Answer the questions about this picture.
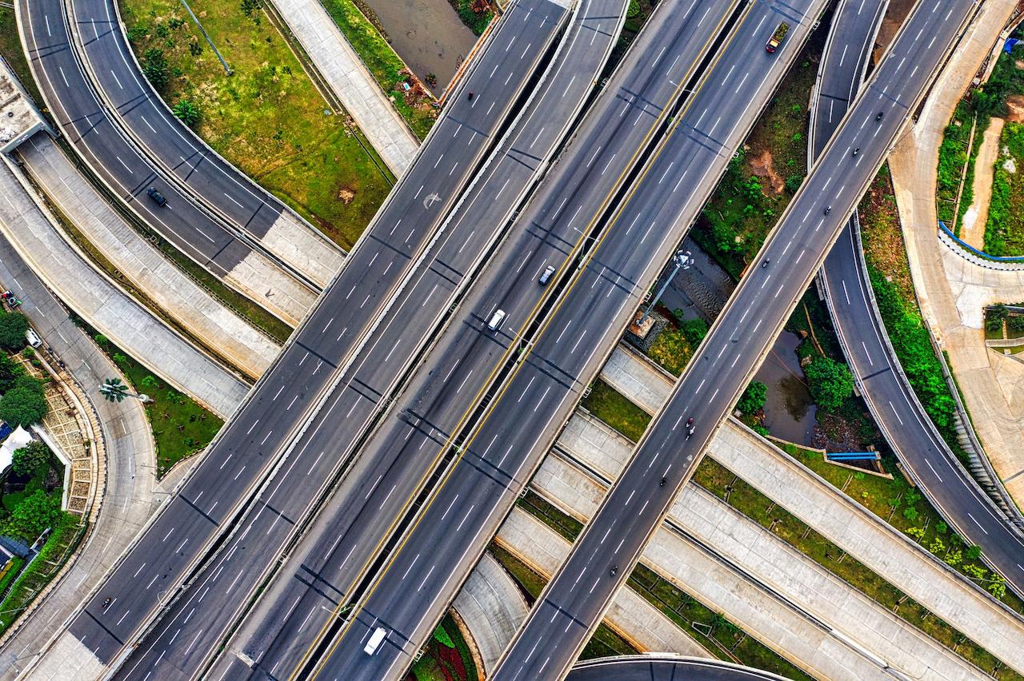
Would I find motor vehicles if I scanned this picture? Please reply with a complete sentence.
Yes, a motor vehicle can be made out from above.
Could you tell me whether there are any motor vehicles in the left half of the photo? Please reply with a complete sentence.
Yes, I can see a motor vehicle in the left half of the photo.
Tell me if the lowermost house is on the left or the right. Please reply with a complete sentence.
The lowermost house sits on the left side.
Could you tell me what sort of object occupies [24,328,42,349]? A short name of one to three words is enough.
vehicle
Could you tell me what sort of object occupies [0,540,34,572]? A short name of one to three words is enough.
house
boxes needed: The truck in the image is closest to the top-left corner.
[144,185,166,206]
